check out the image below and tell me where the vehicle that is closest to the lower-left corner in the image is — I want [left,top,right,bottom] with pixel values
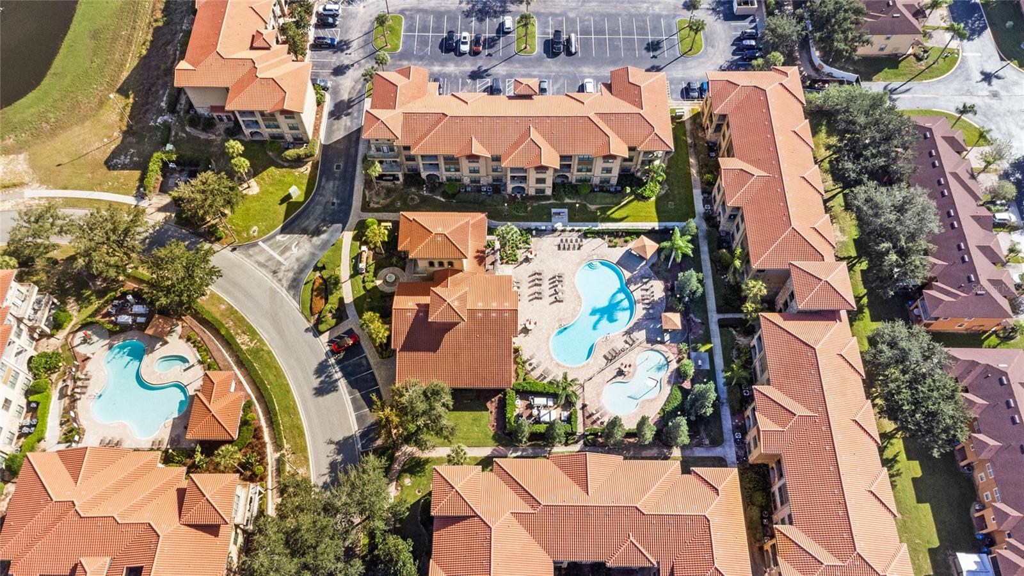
[330,333,361,354]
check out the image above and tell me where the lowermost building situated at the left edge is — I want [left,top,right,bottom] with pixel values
[0,446,257,576]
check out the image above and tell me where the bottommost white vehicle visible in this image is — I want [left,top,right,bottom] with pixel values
[991,210,1021,225]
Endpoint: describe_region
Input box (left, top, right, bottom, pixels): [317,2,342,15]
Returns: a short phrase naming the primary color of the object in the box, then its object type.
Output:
white vehicle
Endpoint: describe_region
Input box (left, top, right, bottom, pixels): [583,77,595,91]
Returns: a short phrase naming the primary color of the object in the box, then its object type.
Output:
white vehicle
